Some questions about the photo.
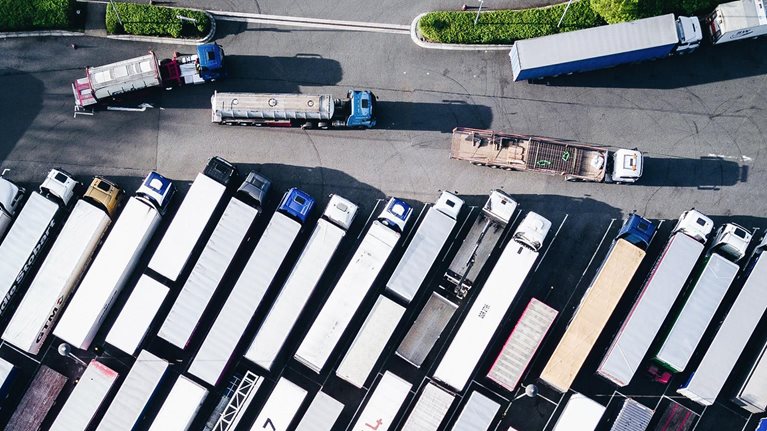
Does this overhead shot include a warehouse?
No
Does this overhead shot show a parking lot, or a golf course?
parking lot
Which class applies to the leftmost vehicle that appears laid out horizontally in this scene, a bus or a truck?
truck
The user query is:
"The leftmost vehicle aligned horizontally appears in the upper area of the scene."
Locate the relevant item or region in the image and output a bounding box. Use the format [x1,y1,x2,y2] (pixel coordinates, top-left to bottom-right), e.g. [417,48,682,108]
[72,38,239,118]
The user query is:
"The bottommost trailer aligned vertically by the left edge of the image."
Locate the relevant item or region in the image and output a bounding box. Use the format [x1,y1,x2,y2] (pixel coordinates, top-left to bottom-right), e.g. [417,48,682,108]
[0,358,24,415]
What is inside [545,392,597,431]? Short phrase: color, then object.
white trailer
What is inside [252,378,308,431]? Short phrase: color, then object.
white trailer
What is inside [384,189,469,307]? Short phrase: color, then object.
white truck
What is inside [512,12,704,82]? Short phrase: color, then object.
white truck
